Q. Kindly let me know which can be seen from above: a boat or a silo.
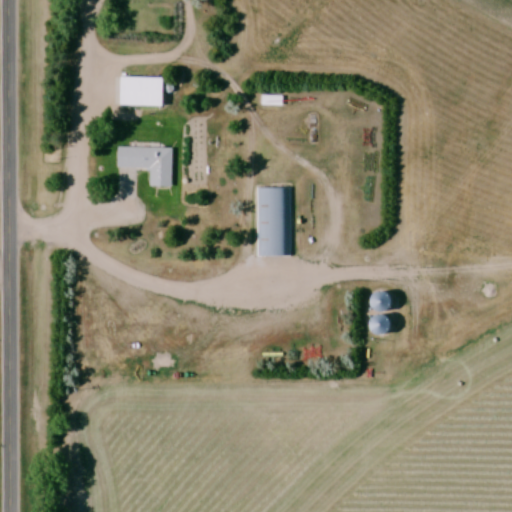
silo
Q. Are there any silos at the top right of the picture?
No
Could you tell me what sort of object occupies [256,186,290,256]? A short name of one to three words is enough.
barn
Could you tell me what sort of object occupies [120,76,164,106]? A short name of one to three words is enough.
building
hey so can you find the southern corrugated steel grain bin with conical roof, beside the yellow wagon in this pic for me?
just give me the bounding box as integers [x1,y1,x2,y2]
[369,313,393,336]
